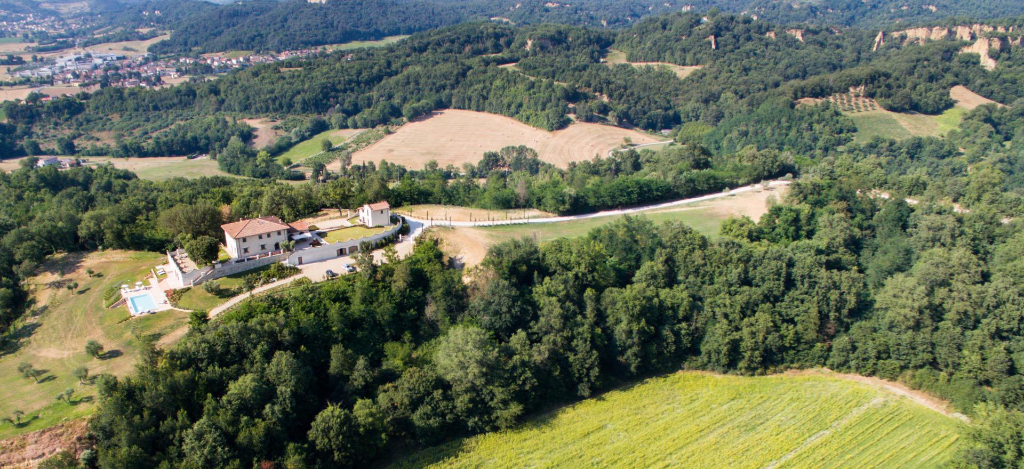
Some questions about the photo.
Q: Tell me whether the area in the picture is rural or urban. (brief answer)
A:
rural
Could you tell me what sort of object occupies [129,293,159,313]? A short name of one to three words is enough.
swimming pool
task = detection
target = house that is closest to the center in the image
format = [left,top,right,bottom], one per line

[360,203,388,227]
